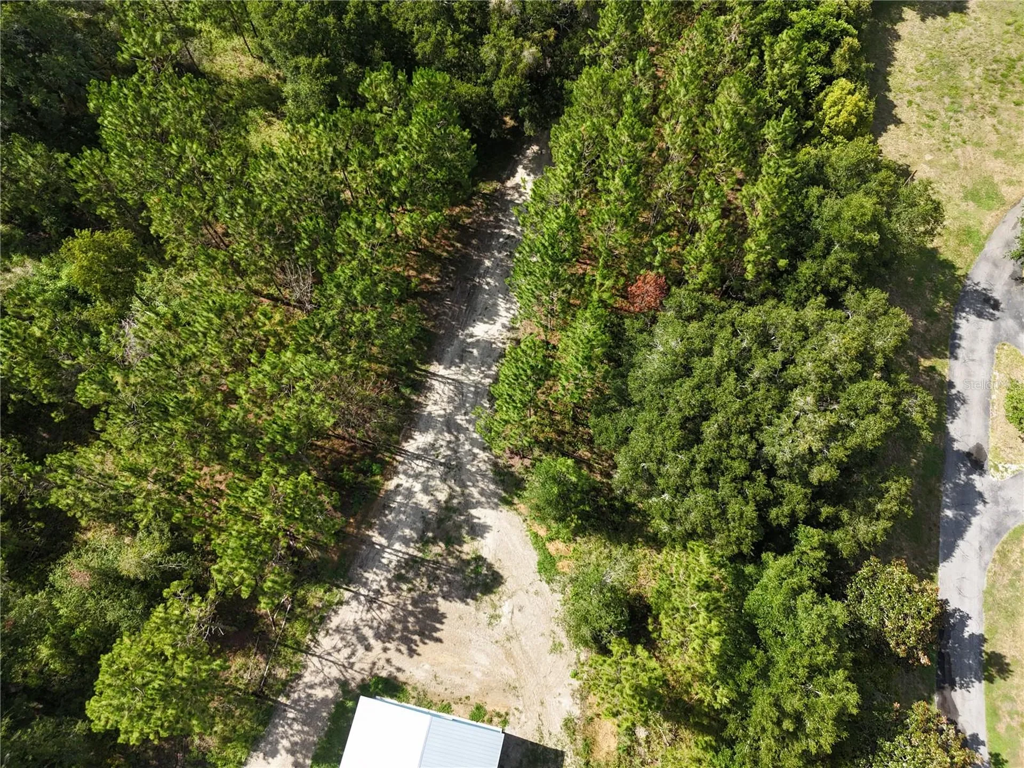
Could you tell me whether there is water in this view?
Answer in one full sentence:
No, the scene doesn't show any water.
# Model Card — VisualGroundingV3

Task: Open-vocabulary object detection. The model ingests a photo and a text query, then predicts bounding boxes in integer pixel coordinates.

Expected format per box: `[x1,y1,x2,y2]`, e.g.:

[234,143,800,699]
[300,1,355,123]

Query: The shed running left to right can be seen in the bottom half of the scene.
[338,688,505,768]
